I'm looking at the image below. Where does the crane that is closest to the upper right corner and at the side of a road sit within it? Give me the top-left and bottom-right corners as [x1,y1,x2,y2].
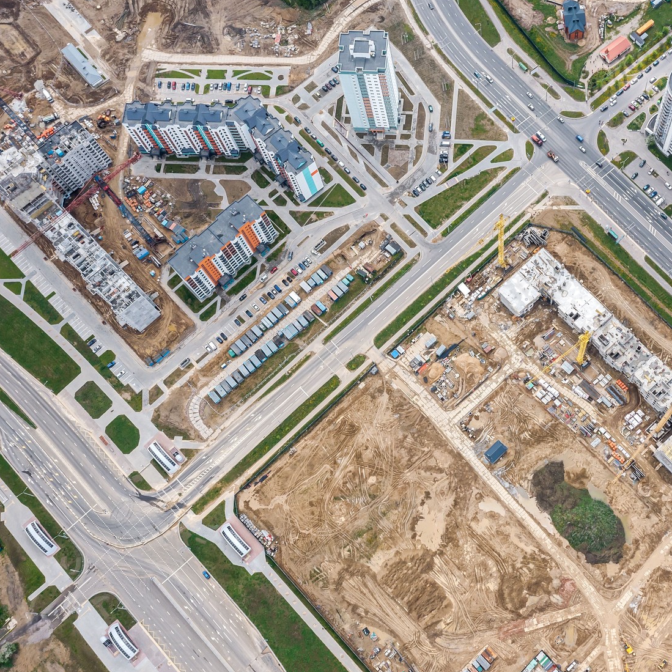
[447,210,521,275]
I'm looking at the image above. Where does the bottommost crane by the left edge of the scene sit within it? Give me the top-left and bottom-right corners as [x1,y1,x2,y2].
[13,151,166,256]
